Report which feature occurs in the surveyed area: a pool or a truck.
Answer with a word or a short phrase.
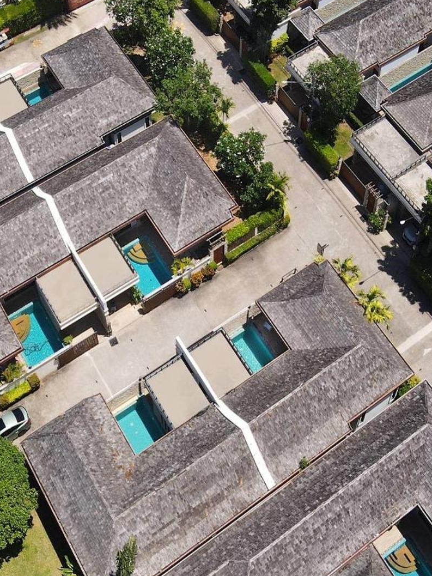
pool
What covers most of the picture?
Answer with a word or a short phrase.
buildings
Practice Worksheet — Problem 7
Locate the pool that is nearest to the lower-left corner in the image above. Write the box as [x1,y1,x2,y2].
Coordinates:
[114,393,171,451]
